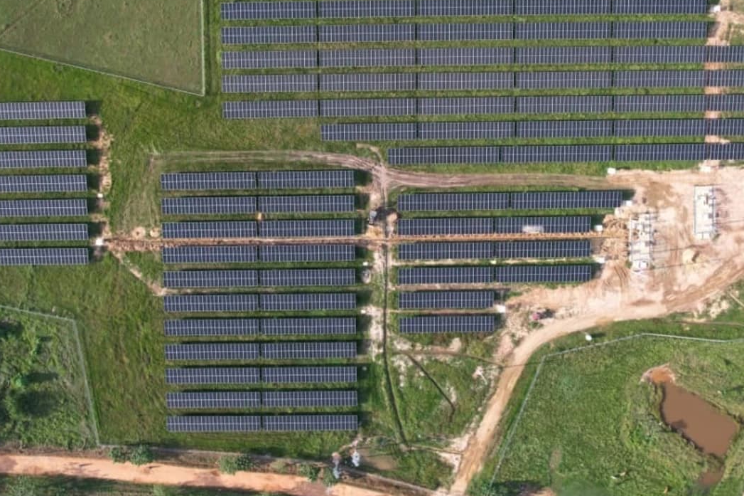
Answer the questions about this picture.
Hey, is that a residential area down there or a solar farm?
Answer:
solar farm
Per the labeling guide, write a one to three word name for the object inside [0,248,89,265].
solar array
